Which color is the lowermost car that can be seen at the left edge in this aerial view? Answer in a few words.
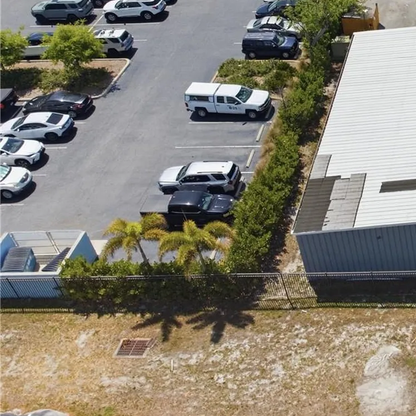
white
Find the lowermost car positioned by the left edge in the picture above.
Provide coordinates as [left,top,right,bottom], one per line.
[0,164,40,199]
